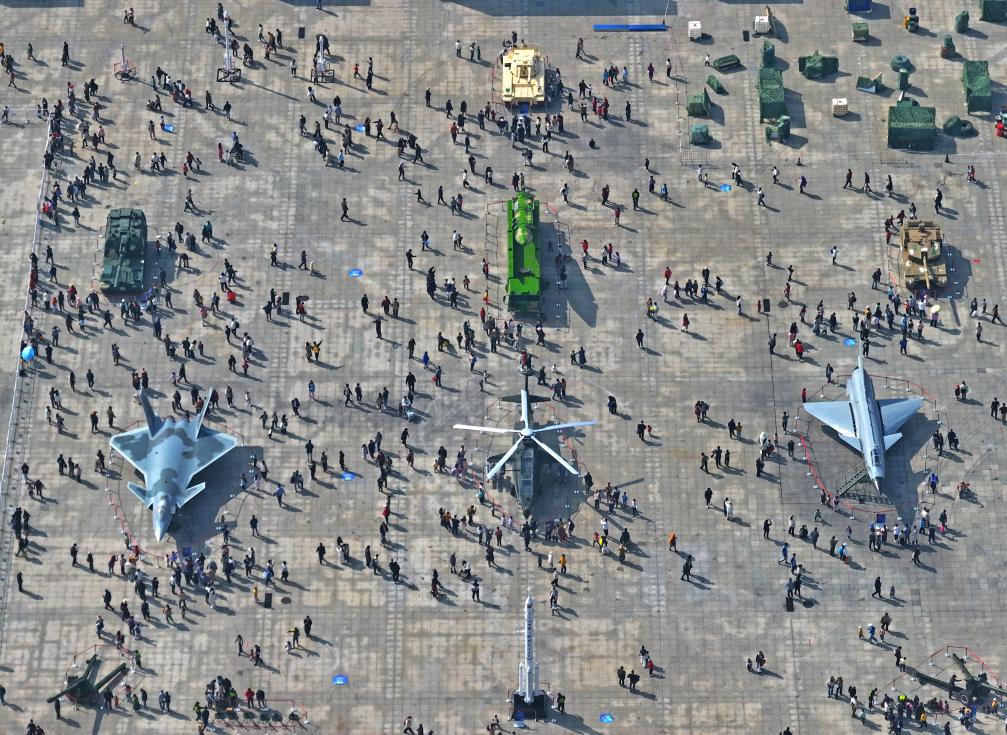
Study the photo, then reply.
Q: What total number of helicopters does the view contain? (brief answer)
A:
1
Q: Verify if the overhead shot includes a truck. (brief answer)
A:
Yes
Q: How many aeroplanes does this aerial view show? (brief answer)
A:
2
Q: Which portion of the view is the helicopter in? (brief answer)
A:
center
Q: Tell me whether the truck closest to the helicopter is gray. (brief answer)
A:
No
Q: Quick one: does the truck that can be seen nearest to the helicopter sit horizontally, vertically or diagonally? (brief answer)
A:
vertically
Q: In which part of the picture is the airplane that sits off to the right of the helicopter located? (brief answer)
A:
right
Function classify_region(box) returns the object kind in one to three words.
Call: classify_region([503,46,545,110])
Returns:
vehicle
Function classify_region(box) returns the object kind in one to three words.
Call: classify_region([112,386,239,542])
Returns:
airplane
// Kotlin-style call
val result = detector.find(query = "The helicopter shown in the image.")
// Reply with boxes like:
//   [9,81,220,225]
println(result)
[453,361,598,526]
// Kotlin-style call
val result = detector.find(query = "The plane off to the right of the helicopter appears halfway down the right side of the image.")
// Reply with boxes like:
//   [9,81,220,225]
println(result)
[801,342,922,502]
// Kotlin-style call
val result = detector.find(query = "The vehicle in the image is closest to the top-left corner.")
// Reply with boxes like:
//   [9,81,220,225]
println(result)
[99,208,150,295]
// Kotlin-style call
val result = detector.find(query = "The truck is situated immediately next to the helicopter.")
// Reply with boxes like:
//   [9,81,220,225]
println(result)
[505,185,543,316]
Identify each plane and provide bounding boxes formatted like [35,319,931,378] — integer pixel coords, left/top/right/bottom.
[801,342,922,502]
[112,386,239,542]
